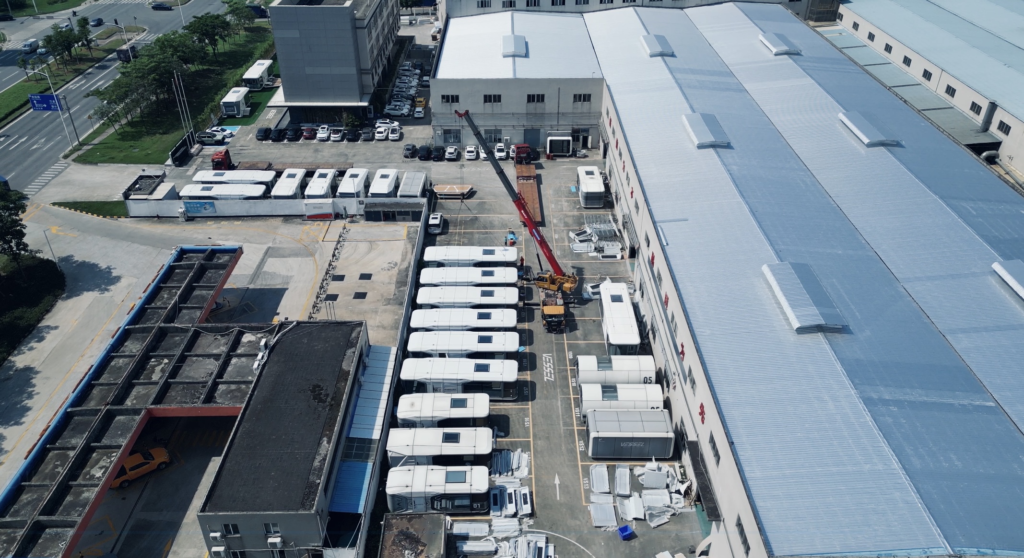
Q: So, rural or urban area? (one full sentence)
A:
The land in this view is best described as urban.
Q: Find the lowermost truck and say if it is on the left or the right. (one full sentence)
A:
The lowermost truck is on the left side of the image.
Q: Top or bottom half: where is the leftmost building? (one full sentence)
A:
It is in the top half that the leftmost building appears.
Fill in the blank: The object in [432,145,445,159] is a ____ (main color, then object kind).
black vehicle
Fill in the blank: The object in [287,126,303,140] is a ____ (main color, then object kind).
black car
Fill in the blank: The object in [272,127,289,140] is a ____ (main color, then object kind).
black vehicle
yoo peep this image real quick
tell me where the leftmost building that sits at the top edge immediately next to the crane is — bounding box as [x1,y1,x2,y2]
[266,0,398,121]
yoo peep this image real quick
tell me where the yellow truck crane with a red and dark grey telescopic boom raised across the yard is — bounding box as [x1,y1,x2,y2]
[446,107,584,331]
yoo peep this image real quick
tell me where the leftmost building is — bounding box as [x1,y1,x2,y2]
[122,169,191,197]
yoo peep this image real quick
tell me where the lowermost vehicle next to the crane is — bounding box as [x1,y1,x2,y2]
[430,211,447,233]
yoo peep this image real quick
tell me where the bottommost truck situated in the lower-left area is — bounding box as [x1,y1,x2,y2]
[116,451,176,493]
